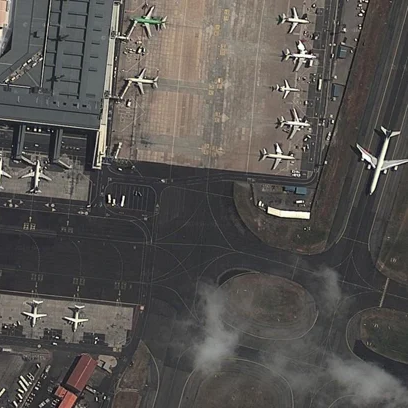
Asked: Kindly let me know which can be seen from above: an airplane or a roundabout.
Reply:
airplane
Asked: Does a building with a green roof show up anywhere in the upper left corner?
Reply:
No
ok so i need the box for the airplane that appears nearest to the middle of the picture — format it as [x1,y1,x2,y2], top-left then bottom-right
[260,142,294,168]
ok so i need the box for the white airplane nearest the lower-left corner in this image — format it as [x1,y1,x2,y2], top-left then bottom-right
[23,299,48,327]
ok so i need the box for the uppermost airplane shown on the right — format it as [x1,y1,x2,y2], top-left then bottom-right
[279,7,310,33]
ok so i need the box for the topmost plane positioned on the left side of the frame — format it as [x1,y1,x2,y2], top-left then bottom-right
[131,6,168,36]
